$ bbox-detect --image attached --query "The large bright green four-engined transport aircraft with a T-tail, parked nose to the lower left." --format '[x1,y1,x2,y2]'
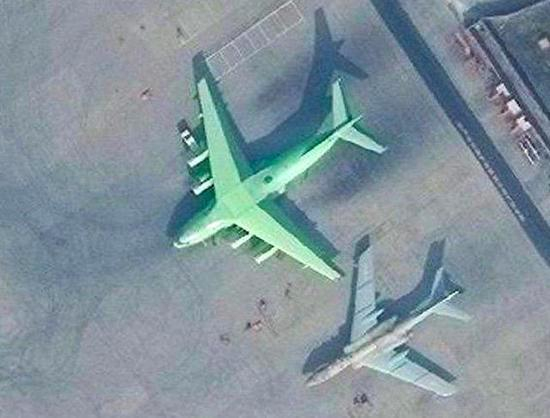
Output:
[175,77,388,279]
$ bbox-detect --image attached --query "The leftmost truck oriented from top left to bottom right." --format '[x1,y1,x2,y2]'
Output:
[177,127,200,152]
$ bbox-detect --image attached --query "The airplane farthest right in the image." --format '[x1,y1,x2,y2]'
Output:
[305,250,475,396]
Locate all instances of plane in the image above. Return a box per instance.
[175,77,388,279]
[305,250,475,396]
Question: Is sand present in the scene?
No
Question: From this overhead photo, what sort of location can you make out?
airport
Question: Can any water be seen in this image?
No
